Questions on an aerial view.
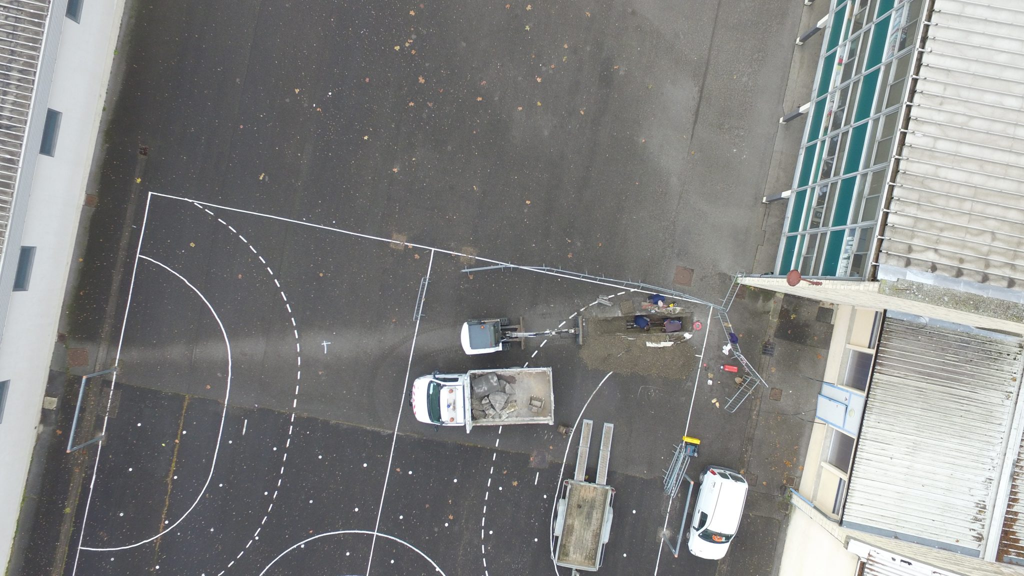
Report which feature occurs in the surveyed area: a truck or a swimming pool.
truck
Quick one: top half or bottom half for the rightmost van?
bottom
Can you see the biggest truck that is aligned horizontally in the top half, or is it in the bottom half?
bottom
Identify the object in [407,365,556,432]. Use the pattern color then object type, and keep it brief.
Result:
white truck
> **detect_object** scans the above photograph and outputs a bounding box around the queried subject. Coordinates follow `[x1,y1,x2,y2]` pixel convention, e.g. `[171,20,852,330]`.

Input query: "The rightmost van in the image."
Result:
[685,463,752,564]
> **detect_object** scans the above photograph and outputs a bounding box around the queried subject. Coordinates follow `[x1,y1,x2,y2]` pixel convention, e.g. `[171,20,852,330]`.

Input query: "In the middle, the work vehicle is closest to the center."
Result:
[461,315,585,357]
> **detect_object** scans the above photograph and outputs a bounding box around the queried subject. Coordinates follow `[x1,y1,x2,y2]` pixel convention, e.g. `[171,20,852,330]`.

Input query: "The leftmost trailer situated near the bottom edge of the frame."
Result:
[553,425,617,576]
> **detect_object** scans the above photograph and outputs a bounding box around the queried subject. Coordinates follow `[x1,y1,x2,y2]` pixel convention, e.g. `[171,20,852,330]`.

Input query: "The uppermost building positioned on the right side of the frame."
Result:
[738,0,1024,337]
